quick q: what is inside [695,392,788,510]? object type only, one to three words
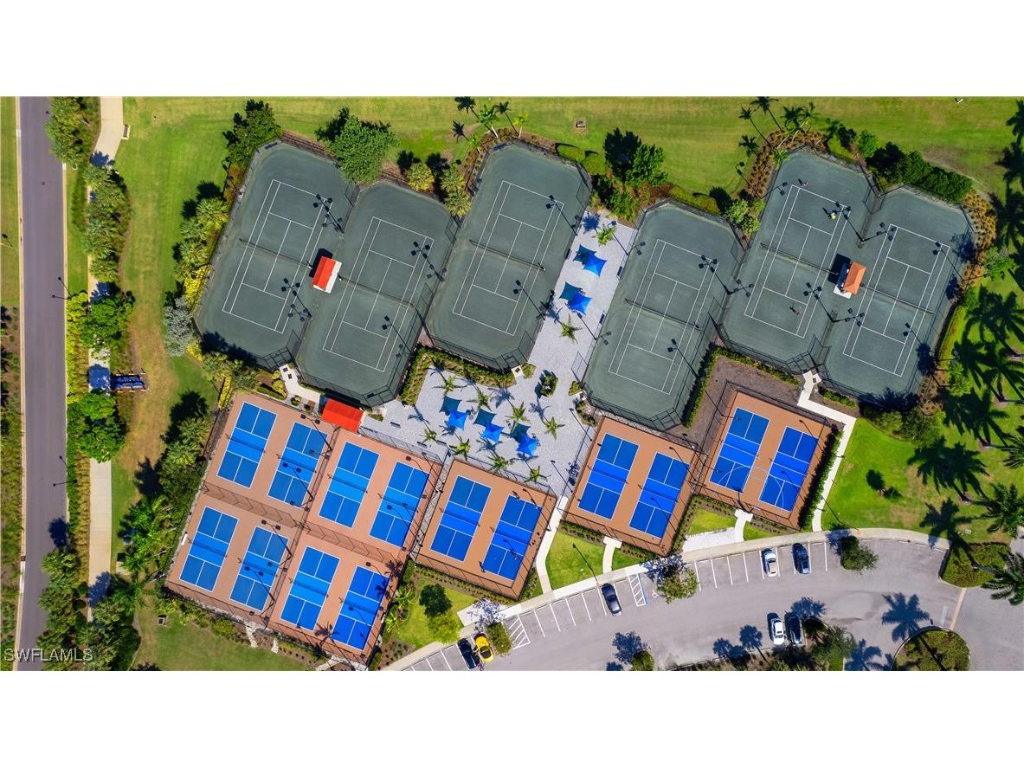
sports court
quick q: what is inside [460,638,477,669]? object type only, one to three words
car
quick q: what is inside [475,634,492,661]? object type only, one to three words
car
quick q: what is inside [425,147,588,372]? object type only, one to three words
tennis court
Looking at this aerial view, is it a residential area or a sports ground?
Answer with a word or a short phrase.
sports ground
